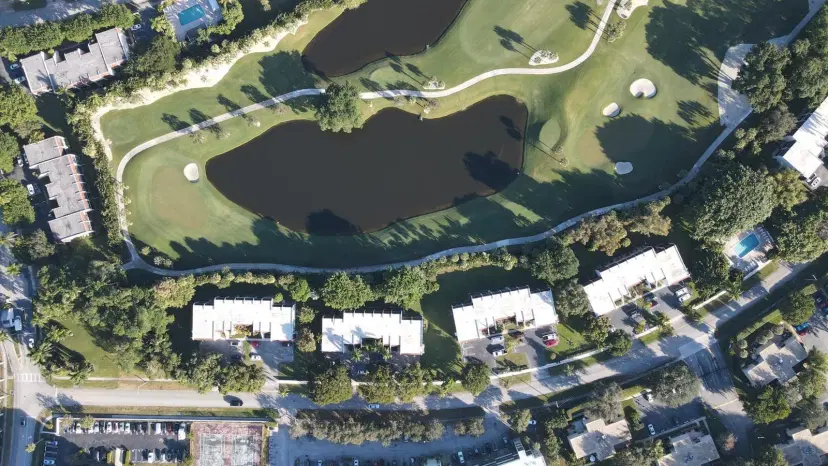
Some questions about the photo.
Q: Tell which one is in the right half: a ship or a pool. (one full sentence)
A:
What appears in the right half is a pool.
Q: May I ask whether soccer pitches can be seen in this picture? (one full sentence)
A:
No, no soccer pitch is visible in the scene.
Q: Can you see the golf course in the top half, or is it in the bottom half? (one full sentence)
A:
The golf course is in the top half of the image.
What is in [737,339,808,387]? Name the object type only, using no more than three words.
house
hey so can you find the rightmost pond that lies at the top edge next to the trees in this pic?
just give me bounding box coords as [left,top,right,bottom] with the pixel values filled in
[302,0,469,76]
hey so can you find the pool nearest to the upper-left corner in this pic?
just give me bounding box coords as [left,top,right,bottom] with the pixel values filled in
[163,0,222,41]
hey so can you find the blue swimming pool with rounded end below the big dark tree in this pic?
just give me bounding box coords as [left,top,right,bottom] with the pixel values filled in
[726,227,777,279]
